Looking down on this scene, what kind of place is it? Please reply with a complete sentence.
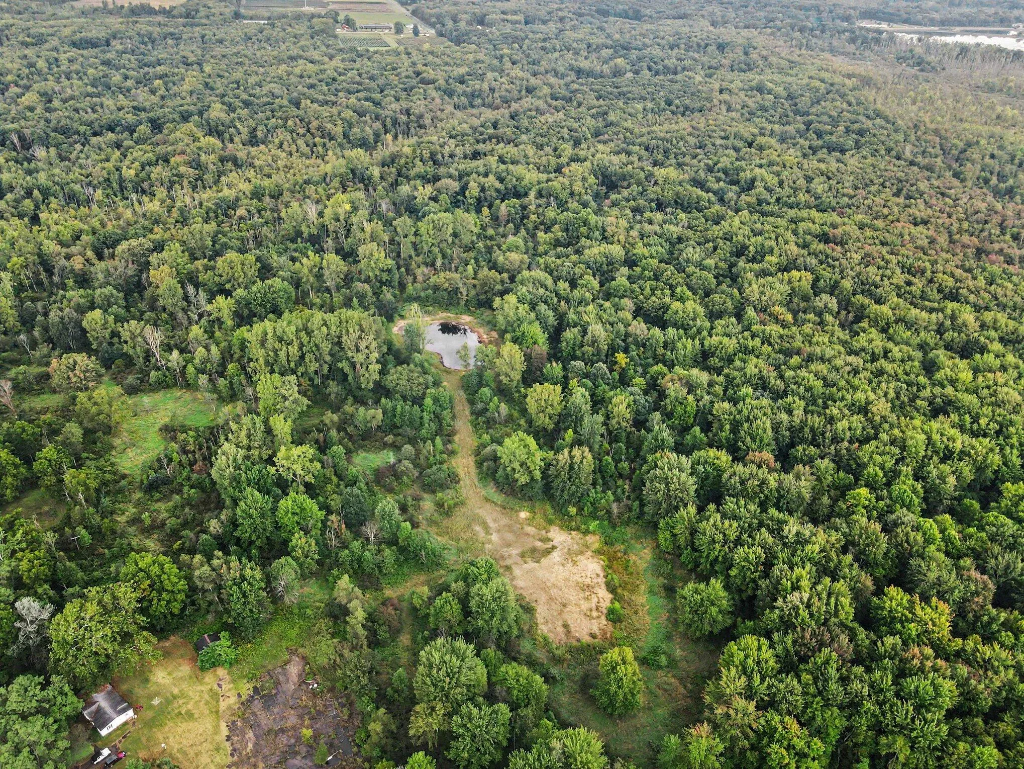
The area seen from above is a forest.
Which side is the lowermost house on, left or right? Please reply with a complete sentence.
The lowermost house appears in the left half of the scene.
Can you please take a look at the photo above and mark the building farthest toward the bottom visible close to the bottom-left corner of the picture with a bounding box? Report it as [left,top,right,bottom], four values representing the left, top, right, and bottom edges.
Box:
[83,684,133,735]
